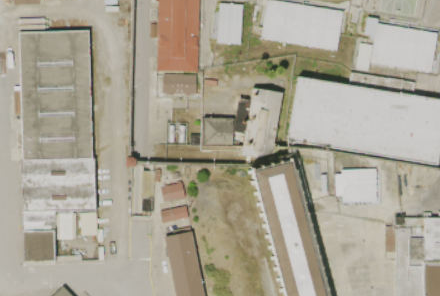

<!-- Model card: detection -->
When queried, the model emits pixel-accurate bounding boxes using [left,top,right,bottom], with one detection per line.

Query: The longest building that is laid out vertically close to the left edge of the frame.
[20,30,96,210]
